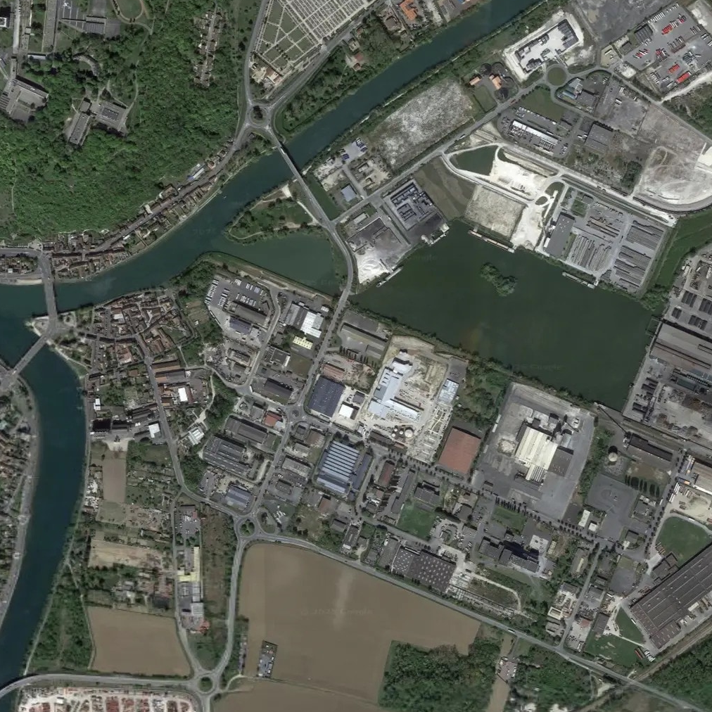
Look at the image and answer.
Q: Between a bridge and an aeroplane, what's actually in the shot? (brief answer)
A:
bridge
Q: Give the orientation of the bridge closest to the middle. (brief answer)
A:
on a diagonal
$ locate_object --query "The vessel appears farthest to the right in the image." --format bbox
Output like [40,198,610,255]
[563,274,594,289]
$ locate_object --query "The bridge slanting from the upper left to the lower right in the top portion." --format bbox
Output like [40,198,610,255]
[272,136,327,214]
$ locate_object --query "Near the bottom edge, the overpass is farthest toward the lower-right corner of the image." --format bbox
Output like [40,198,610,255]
[591,665,676,704]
